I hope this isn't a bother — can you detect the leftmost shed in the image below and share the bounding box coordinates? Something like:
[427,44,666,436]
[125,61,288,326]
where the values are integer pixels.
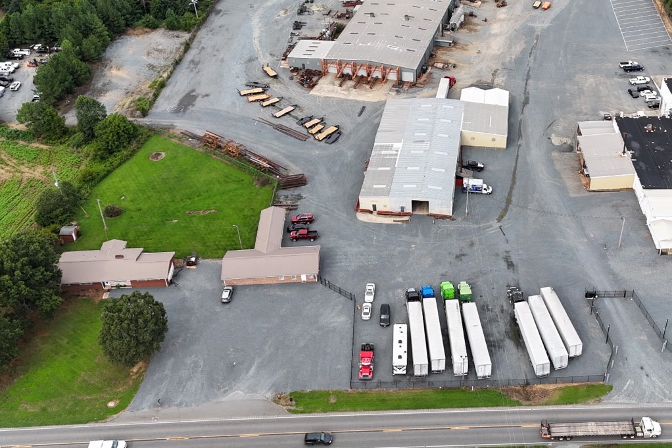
[57,224,78,242]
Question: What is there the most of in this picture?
paved ground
